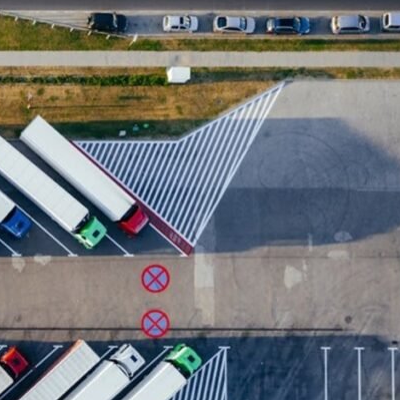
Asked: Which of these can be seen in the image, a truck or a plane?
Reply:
truck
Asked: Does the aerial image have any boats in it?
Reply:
No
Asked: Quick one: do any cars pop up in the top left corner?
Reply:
Yes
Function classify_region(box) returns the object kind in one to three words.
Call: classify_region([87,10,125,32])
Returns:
car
